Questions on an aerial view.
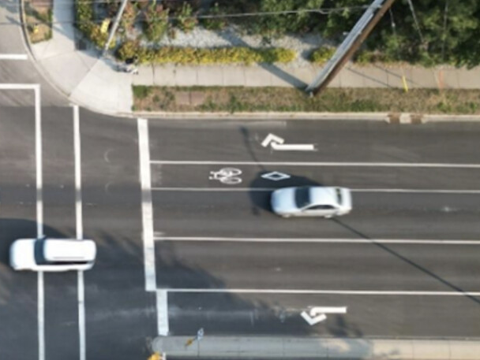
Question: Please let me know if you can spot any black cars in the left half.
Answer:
No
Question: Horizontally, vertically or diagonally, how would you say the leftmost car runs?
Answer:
horizontally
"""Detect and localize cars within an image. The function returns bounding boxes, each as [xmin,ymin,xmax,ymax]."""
[8,232,98,275]
[268,180,354,221]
